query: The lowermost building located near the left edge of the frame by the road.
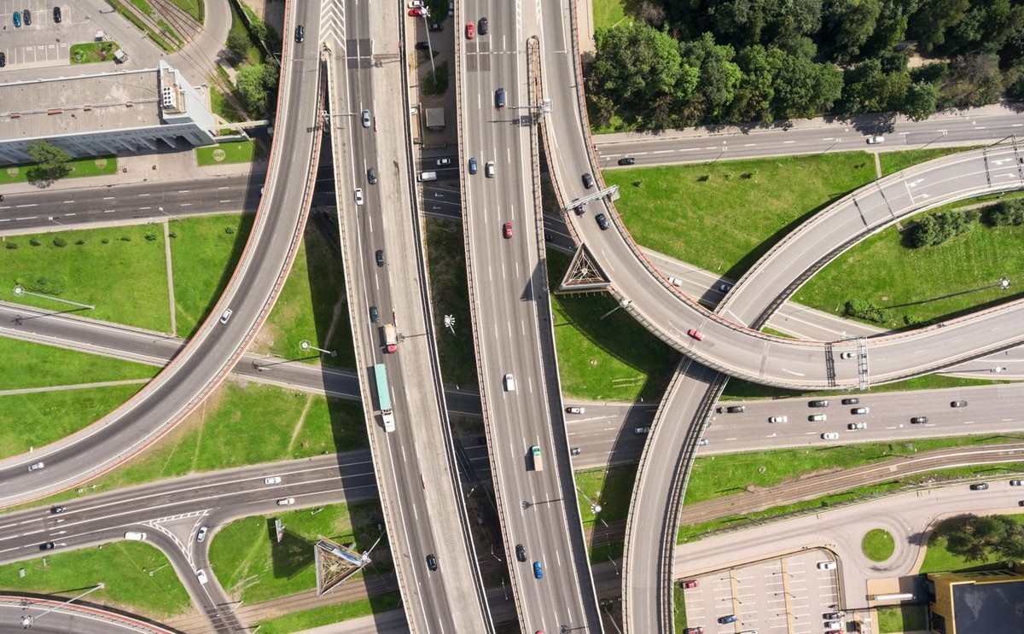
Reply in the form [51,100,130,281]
[0,58,223,173]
